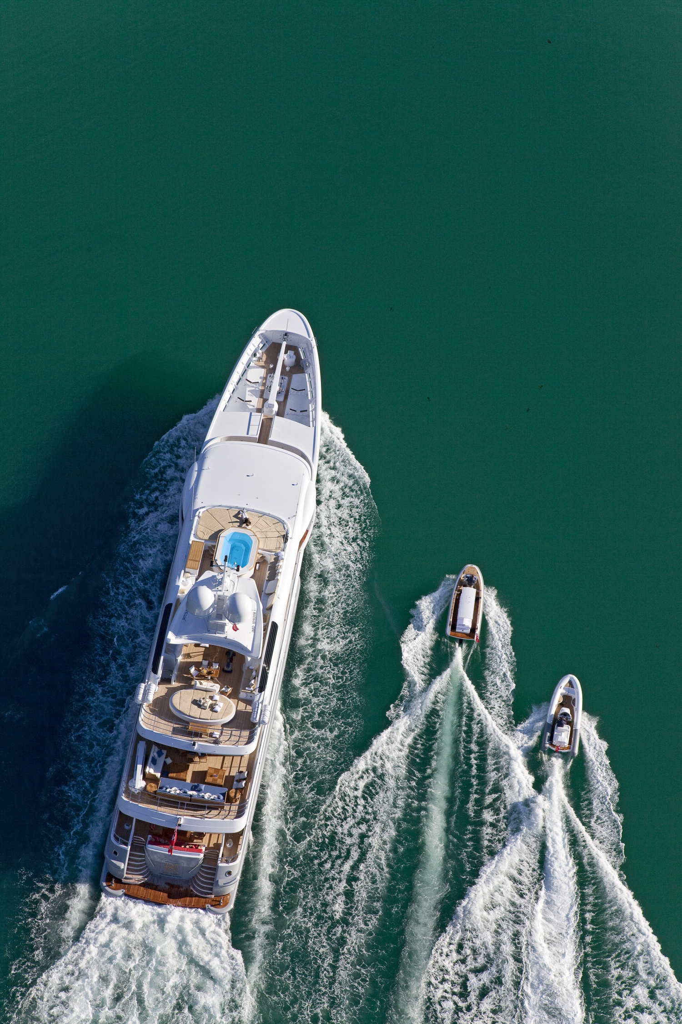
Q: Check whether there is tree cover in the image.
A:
No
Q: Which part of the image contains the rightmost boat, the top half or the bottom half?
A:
bottom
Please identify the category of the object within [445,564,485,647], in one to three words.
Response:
boat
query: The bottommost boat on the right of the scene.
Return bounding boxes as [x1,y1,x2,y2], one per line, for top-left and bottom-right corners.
[542,674,582,761]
